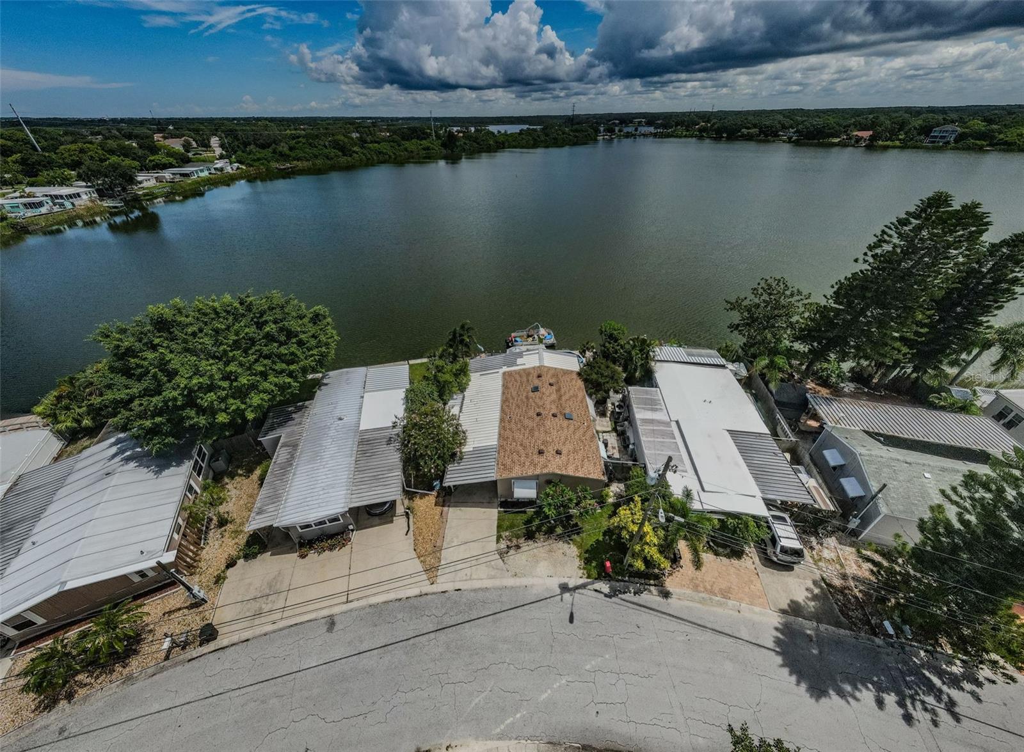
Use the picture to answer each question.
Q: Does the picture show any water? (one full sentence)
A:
Yes, the picture does contain water.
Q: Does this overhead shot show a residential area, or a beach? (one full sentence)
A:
What you see here is a residential area.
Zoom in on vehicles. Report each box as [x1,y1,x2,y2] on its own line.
[372,502,402,521]
[762,507,813,577]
